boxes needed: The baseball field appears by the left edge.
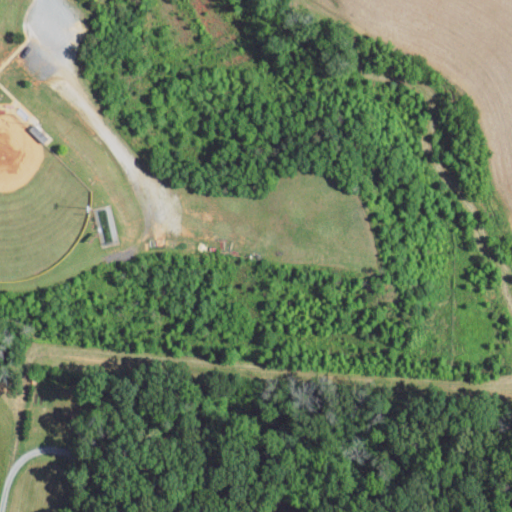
[0,110,92,283]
